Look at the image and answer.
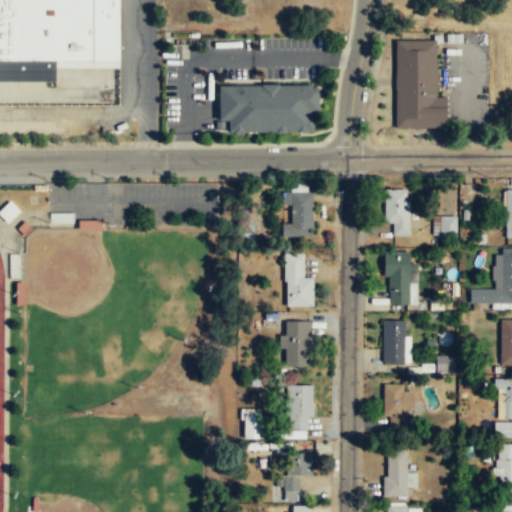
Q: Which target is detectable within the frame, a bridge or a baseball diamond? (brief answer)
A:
baseball diamond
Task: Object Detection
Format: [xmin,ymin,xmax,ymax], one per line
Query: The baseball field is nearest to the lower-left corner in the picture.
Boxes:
[24,416,204,512]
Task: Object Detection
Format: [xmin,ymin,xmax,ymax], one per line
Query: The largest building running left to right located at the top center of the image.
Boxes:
[218,84,320,134]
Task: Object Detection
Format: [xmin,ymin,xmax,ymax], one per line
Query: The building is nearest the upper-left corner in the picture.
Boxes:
[0,0,120,80]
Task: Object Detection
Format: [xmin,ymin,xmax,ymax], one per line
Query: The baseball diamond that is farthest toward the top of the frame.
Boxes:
[26,230,209,417]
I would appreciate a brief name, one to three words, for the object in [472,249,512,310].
house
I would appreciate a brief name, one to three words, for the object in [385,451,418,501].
house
